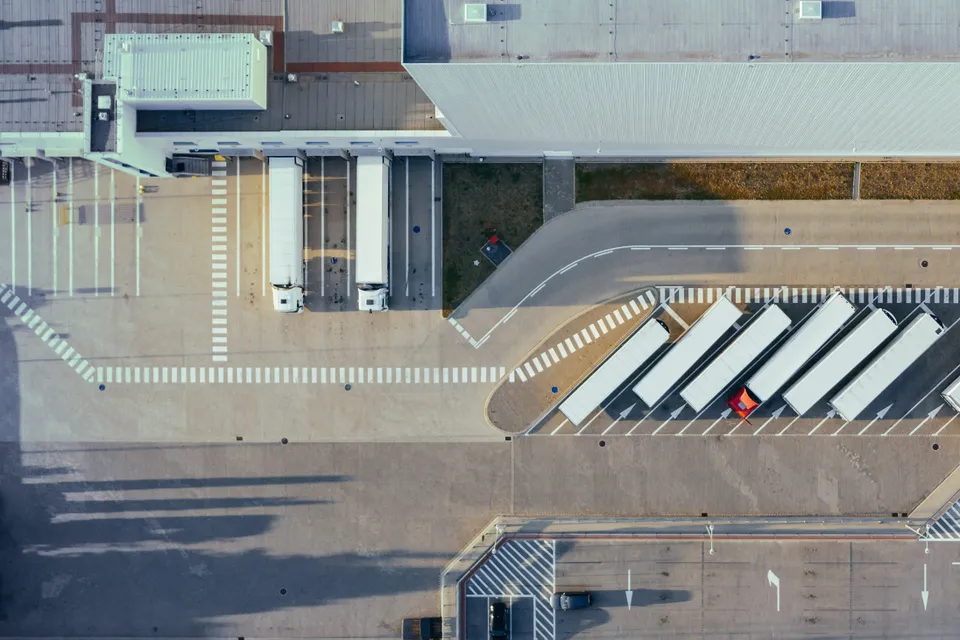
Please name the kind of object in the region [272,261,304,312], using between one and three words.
truck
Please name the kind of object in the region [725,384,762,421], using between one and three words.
truck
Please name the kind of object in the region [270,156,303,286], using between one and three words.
trailer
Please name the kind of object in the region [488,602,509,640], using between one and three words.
car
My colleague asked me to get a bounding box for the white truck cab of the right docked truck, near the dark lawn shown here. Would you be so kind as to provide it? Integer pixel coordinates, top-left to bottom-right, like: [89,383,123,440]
[357,285,389,311]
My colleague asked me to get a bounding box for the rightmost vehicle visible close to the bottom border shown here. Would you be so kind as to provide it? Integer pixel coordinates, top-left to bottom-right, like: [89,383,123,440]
[551,590,592,611]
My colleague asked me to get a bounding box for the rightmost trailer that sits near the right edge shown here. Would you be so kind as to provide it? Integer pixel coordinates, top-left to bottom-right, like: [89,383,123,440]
[934,370,960,413]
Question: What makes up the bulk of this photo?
paved ground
